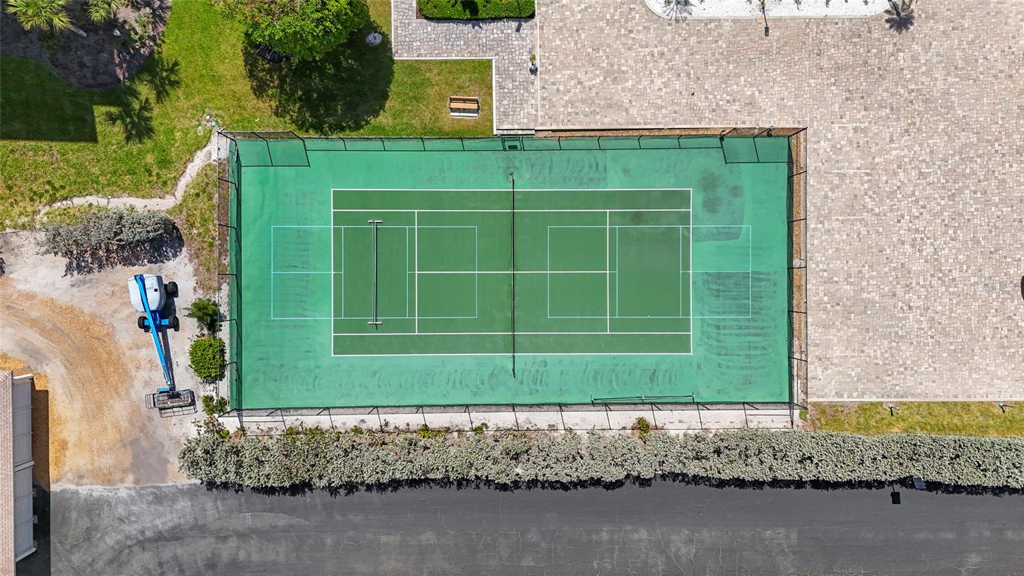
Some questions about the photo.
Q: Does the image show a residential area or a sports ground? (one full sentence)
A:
What you see here is a sports ground.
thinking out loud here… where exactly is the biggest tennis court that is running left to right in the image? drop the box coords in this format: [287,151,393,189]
[229,137,793,411]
